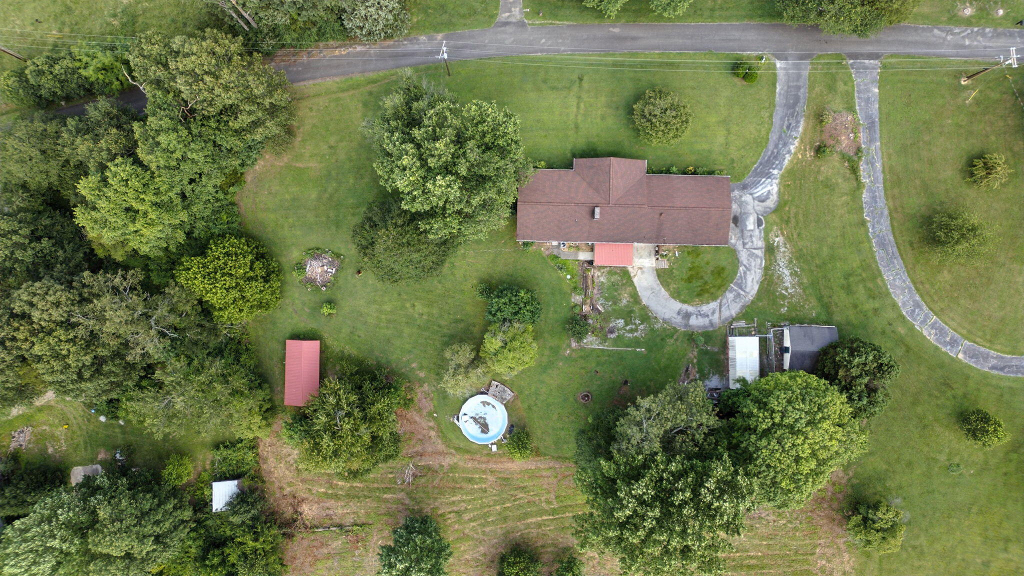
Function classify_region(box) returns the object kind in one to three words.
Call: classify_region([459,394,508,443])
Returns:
swimming pool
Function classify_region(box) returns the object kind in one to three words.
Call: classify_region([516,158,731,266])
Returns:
house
